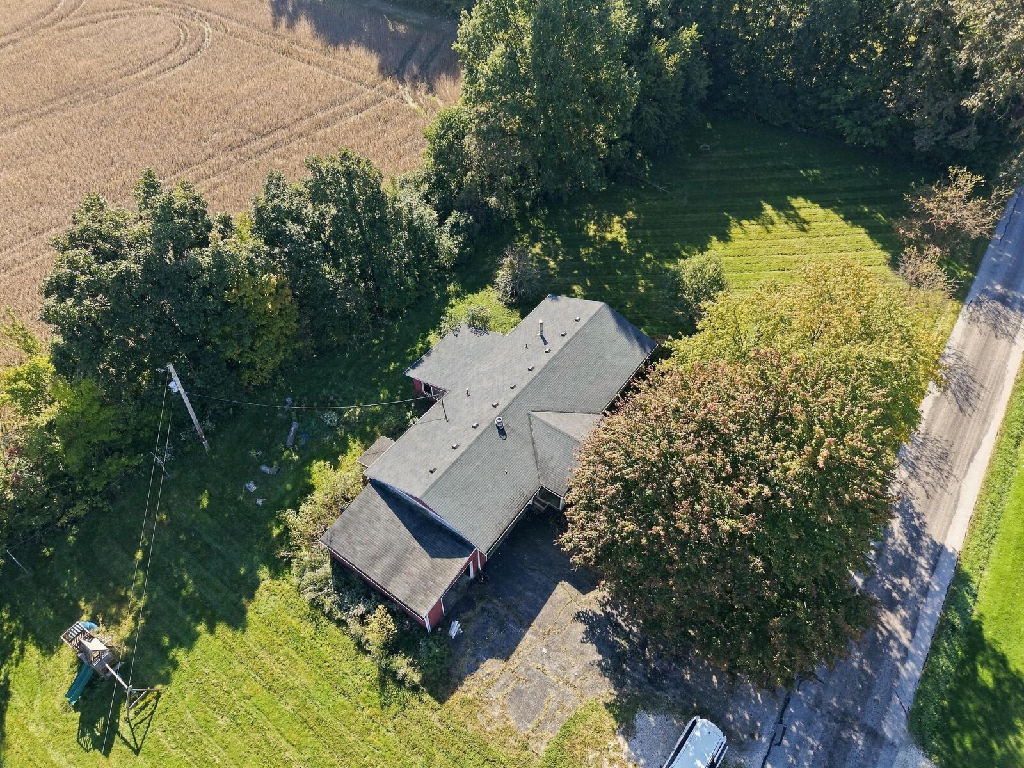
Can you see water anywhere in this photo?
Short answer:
No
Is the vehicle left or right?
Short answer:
right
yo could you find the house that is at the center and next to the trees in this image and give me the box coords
[318,293,659,629]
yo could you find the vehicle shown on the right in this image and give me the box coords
[661,718,725,768]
